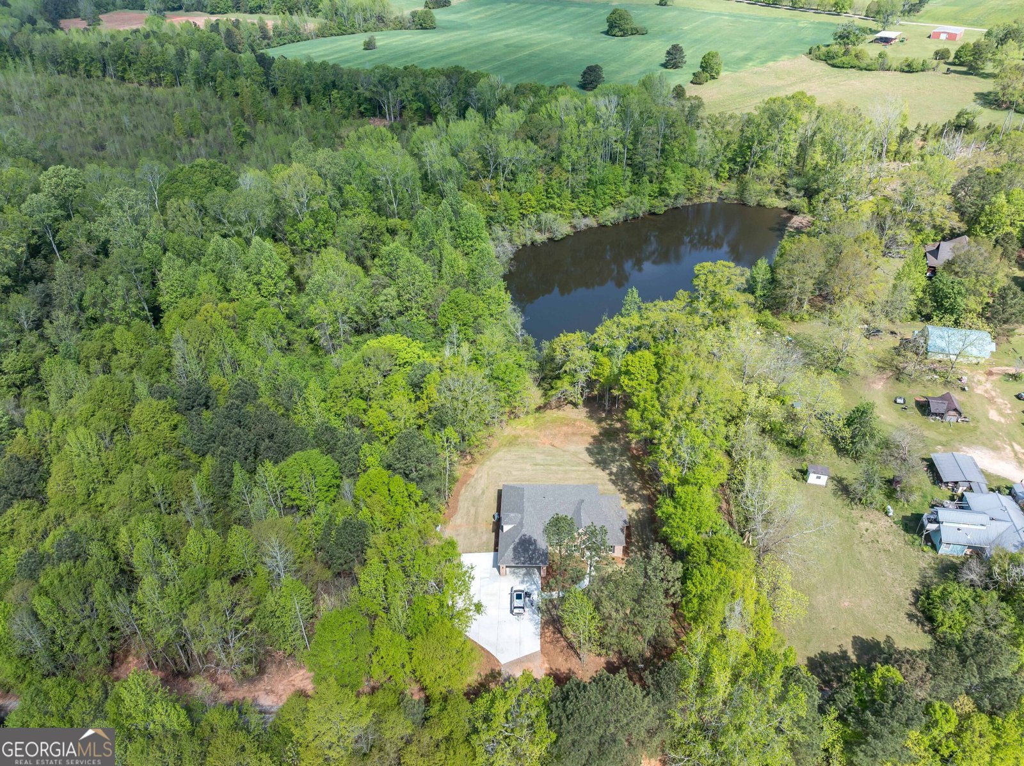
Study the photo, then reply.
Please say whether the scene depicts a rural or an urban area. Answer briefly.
rural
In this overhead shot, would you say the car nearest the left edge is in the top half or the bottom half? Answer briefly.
bottom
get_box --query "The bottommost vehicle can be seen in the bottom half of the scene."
[511,583,531,613]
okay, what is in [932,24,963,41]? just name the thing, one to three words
barn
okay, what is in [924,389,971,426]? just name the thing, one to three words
shed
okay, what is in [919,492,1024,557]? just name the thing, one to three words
house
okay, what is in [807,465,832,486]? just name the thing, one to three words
shed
